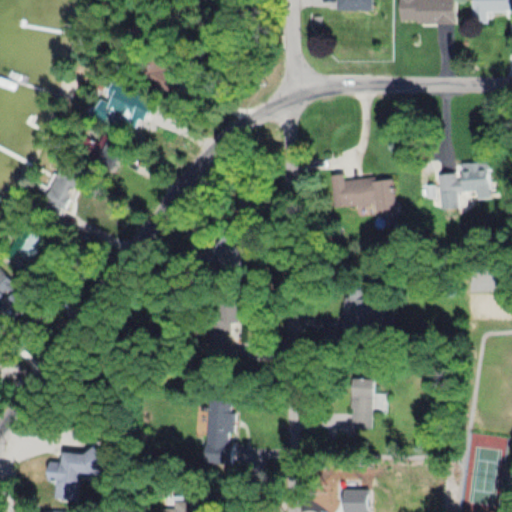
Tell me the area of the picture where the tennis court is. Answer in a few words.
bottom right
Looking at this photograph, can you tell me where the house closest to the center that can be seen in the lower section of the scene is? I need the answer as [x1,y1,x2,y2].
[214,300,238,328]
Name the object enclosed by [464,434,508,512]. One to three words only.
tennis court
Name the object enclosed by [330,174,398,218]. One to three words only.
house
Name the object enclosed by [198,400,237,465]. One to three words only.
house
